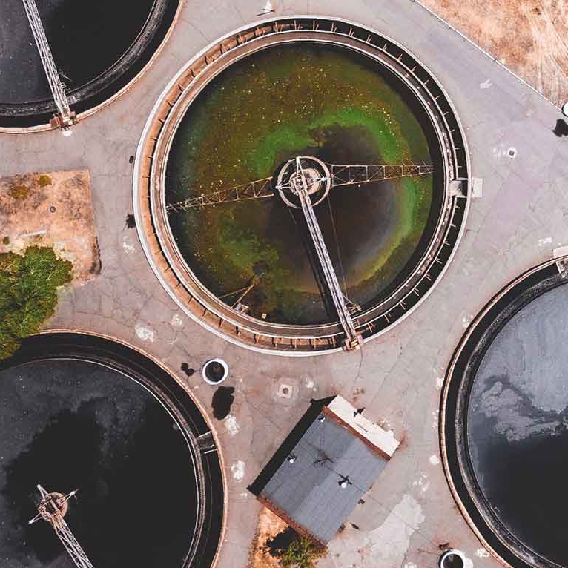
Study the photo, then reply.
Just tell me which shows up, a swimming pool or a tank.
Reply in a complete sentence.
Of the two, only a tank appears.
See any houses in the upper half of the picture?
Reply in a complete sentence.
No, no house appears in the upper half of the picture.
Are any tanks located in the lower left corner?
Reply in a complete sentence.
Yes, I can see a tank in the lower left corner.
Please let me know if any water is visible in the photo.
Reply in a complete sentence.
Yes, water can be seen from above here.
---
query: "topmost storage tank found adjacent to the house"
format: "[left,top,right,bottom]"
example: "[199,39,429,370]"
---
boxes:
[133,14,472,356]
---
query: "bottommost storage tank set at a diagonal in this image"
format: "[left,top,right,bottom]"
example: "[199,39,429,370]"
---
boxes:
[0,329,228,568]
